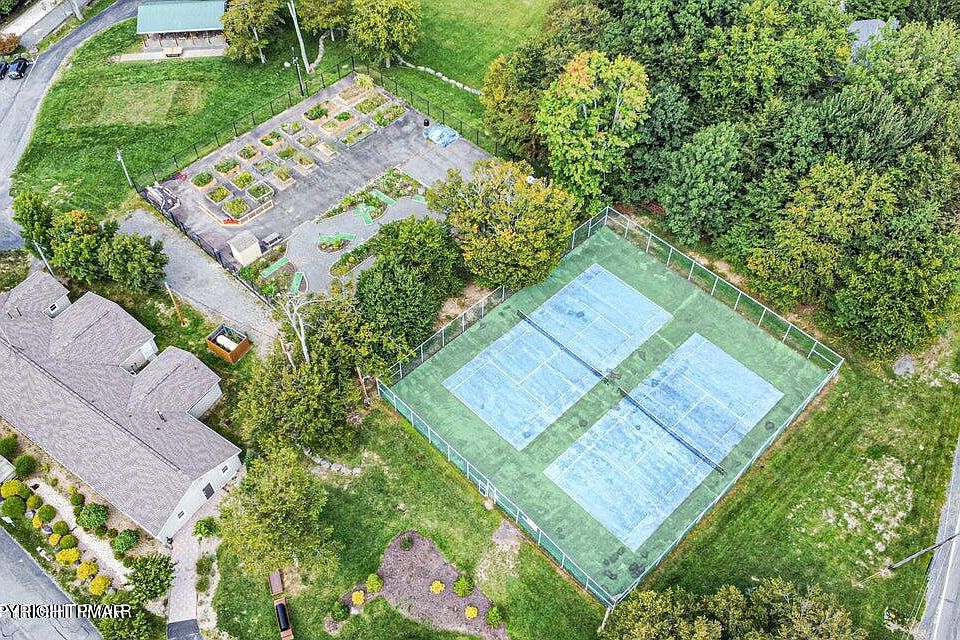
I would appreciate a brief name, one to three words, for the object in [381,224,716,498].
tennis court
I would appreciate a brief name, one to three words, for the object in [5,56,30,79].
car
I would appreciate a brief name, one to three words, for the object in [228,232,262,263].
shed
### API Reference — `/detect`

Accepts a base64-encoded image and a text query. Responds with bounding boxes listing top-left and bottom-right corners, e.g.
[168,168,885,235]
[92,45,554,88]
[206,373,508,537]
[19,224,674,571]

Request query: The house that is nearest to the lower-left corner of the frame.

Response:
[0,271,245,543]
